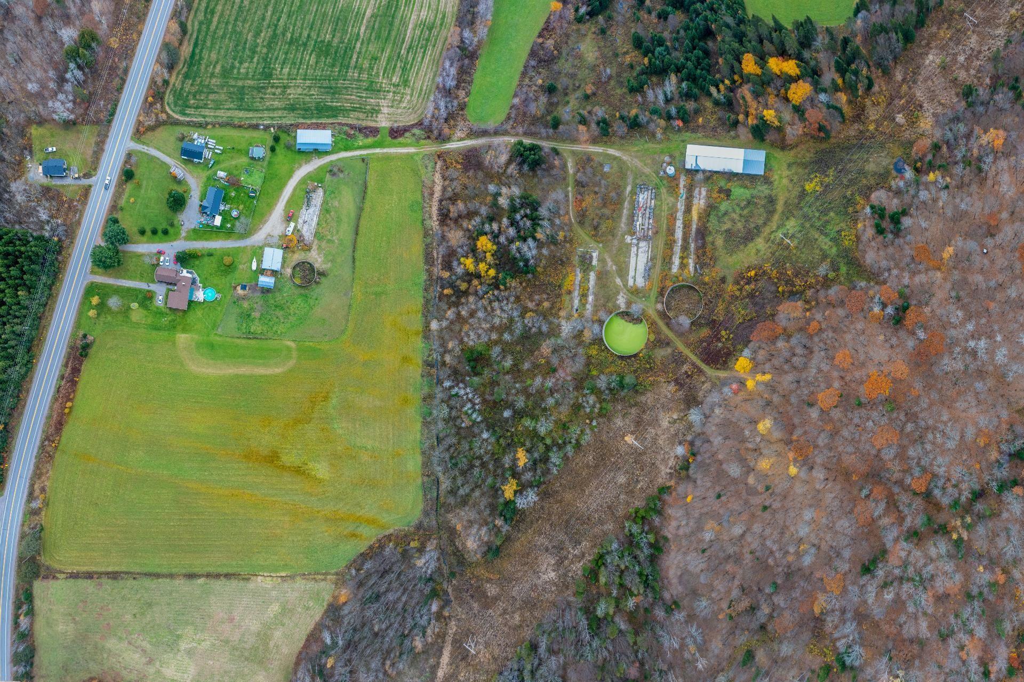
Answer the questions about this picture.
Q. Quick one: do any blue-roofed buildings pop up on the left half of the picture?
Yes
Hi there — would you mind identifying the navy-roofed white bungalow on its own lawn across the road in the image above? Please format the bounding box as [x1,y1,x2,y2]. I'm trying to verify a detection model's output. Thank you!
[40,159,72,176]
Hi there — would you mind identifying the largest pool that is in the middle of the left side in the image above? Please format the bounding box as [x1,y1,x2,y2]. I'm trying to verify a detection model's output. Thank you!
[202,288,217,301]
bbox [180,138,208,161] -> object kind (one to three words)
building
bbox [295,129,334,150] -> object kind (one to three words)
barn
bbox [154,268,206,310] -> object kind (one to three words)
house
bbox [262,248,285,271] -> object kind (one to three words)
shed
